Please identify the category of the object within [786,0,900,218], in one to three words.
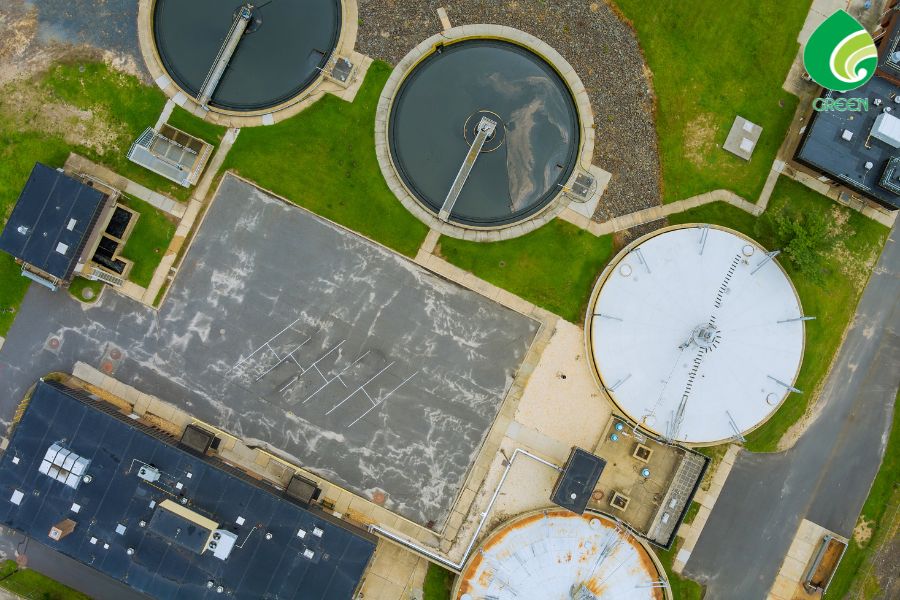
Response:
building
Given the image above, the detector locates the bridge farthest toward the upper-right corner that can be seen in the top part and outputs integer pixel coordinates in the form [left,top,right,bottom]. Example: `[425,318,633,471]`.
[439,113,494,221]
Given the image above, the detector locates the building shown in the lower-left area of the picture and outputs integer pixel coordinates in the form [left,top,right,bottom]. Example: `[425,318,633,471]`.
[0,378,377,600]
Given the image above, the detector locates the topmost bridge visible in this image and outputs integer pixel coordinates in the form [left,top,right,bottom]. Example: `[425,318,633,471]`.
[200,1,250,105]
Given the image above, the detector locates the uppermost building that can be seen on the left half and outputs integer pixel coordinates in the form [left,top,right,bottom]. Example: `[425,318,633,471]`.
[0,163,114,290]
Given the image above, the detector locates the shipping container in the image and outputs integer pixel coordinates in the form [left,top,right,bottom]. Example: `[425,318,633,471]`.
[801,530,846,593]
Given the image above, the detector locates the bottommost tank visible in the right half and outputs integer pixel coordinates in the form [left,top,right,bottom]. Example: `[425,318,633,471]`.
[452,502,671,600]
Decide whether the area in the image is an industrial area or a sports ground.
industrial area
